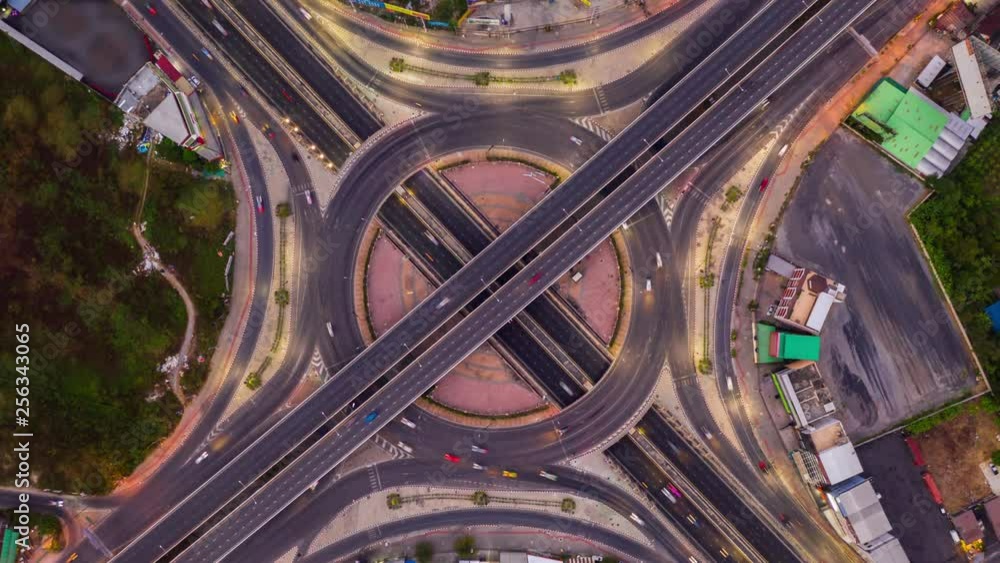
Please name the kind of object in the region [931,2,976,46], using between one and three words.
house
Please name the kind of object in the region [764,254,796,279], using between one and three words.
shed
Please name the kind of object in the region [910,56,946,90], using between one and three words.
building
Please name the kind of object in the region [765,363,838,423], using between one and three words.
building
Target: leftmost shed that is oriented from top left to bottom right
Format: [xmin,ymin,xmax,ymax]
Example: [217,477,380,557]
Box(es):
[0,20,90,84]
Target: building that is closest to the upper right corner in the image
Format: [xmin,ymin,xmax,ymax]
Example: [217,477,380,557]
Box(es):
[967,2,1000,43]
